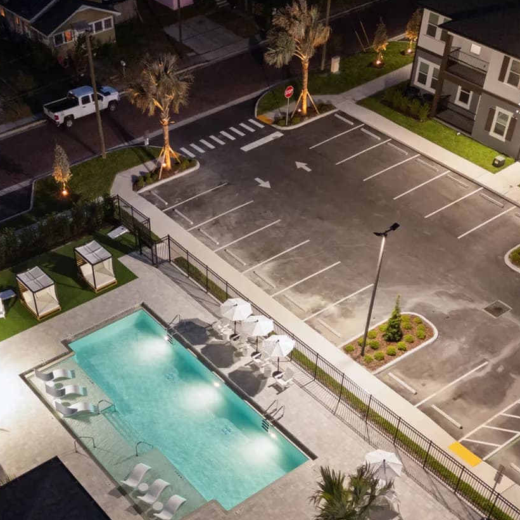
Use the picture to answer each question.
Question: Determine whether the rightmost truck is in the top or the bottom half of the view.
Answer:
top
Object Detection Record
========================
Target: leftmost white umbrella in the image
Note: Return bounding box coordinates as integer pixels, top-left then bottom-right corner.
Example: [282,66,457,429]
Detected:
[218,298,253,330]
